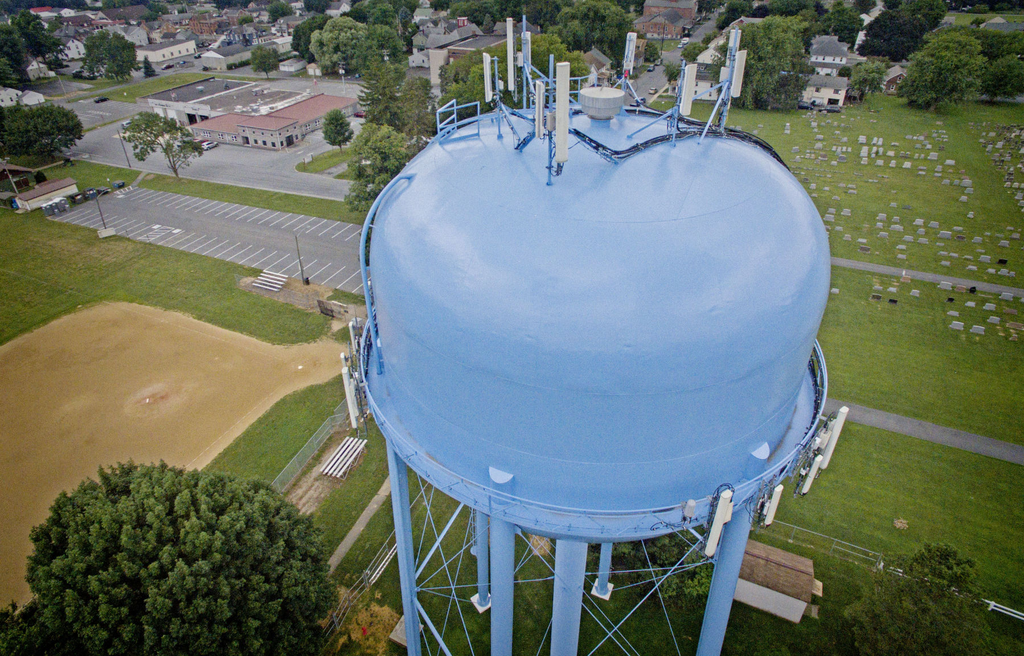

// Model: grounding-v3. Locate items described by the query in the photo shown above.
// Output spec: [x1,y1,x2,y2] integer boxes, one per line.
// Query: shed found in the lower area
[733,542,822,622]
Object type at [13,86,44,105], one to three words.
shed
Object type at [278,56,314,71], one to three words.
building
